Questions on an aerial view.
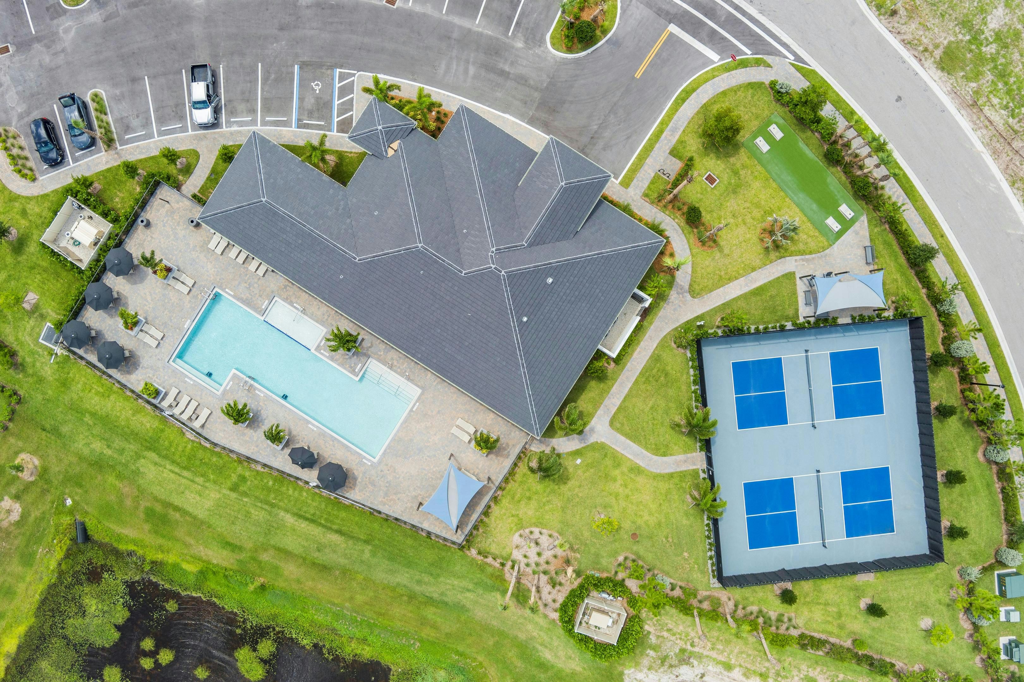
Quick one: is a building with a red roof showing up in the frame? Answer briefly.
No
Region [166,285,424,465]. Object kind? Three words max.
swimming pool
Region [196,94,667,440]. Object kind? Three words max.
building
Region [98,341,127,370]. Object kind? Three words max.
umbrella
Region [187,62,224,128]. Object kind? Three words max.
truck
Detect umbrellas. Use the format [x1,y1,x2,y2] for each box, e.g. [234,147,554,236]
[318,462,347,490]
[289,442,315,470]
[63,319,93,348]
[86,283,117,310]
[98,341,127,370]
[106,249,136,276]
